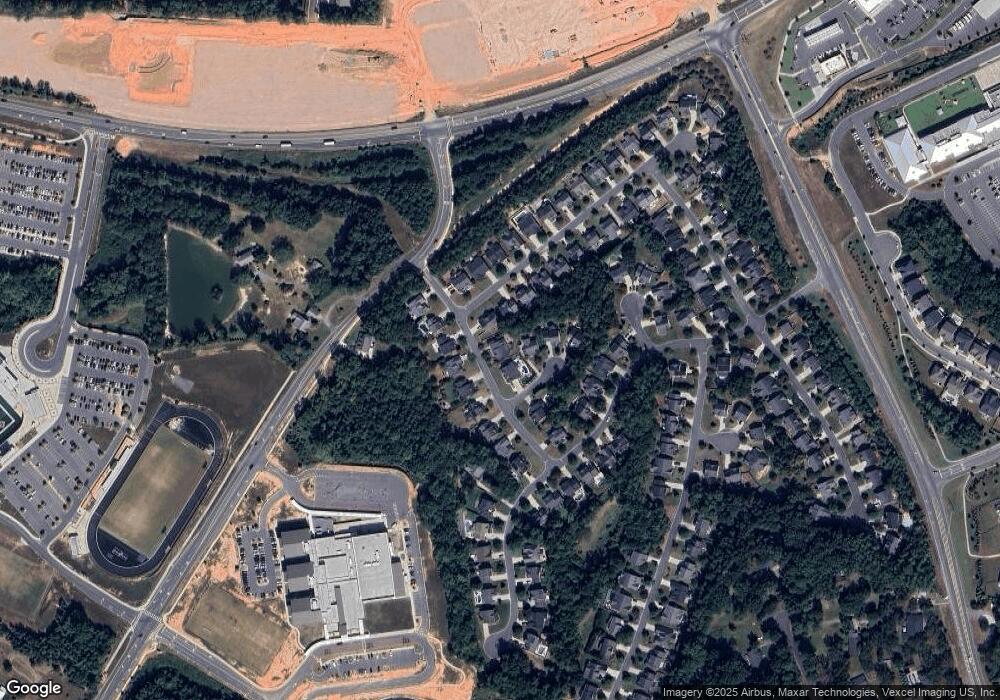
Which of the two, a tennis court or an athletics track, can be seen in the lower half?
athletics track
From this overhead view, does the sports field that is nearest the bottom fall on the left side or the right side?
left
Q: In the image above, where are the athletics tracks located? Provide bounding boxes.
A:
[92,403,221,570]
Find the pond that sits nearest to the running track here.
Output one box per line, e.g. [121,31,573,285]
[167,229,240,332]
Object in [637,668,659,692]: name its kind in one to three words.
house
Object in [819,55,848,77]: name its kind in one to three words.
building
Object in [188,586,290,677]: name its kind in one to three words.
sports field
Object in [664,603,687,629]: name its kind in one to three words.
house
